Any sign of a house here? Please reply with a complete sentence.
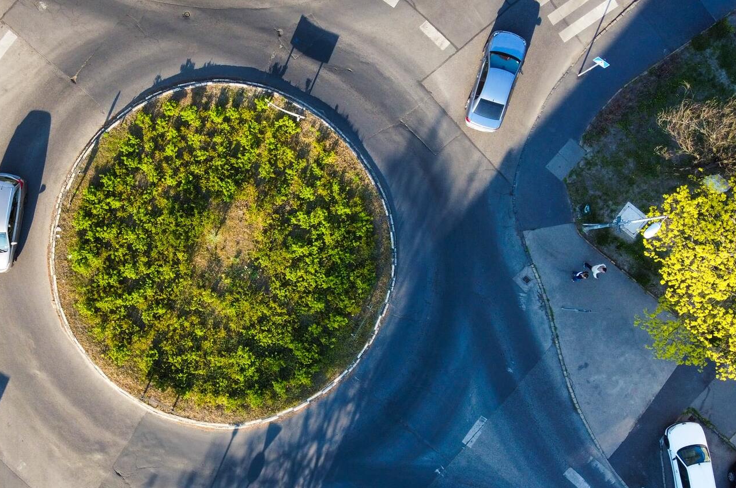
No, no house is visible in the view.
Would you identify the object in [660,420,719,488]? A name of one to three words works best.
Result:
car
